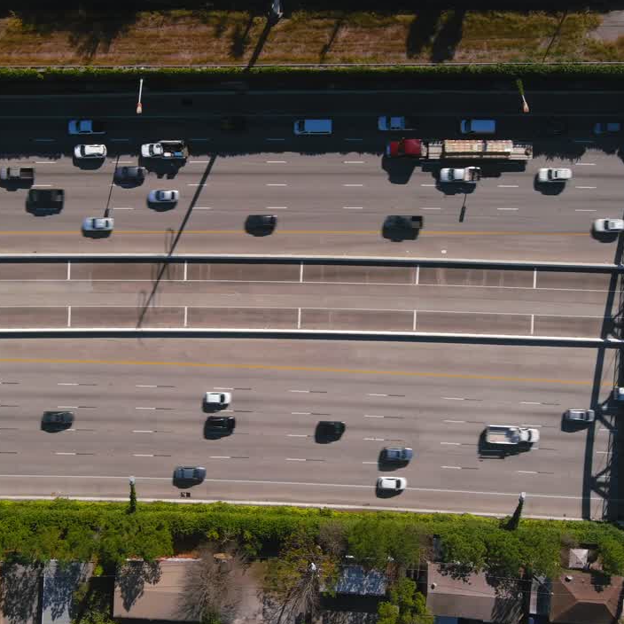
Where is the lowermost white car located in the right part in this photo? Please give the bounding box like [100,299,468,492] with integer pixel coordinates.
[377,477,406,491]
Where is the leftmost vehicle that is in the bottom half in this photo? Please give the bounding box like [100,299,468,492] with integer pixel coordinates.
[43,412,74,424]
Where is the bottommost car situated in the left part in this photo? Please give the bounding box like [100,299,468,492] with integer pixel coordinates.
[175,467,206,481]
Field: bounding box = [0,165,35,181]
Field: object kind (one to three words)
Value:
vehicle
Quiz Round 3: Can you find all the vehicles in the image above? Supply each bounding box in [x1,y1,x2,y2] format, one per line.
[175,467,206,481]
[294,119,333,134]
[591,217,624,233]
[592,122,621,135]
[487,427,540,444]
[43,412,74,424]
[535,167,572,182]
[245,216,277,231]
[75,144,108,158]
[0,165,35,181]
[142,142,187,158]
[115,167,146,182]
[206,392,232,406]
[69,119,106,134]
[83,217,115,232]
[383,448,412,462]
[459,119,497,134]
[317,421,346,434]
[439,167,482,182]
[385,139,534,160]
[377,115,417,132]
[377,477,406,491]
[29,191,65,206]
[147,190,180,203]
[564,408,594,423]
[207,417,236,432]
[381,217,423,232]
